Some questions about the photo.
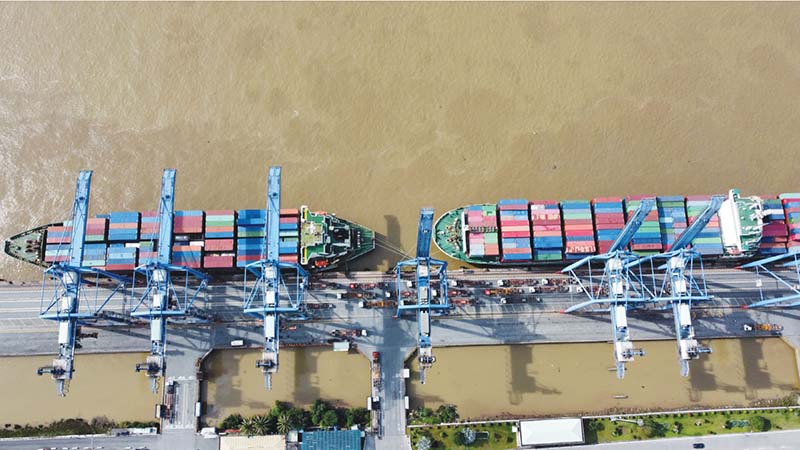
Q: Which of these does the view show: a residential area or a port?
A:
port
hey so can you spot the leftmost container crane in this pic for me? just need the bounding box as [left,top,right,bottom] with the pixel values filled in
[28,168,144,397]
